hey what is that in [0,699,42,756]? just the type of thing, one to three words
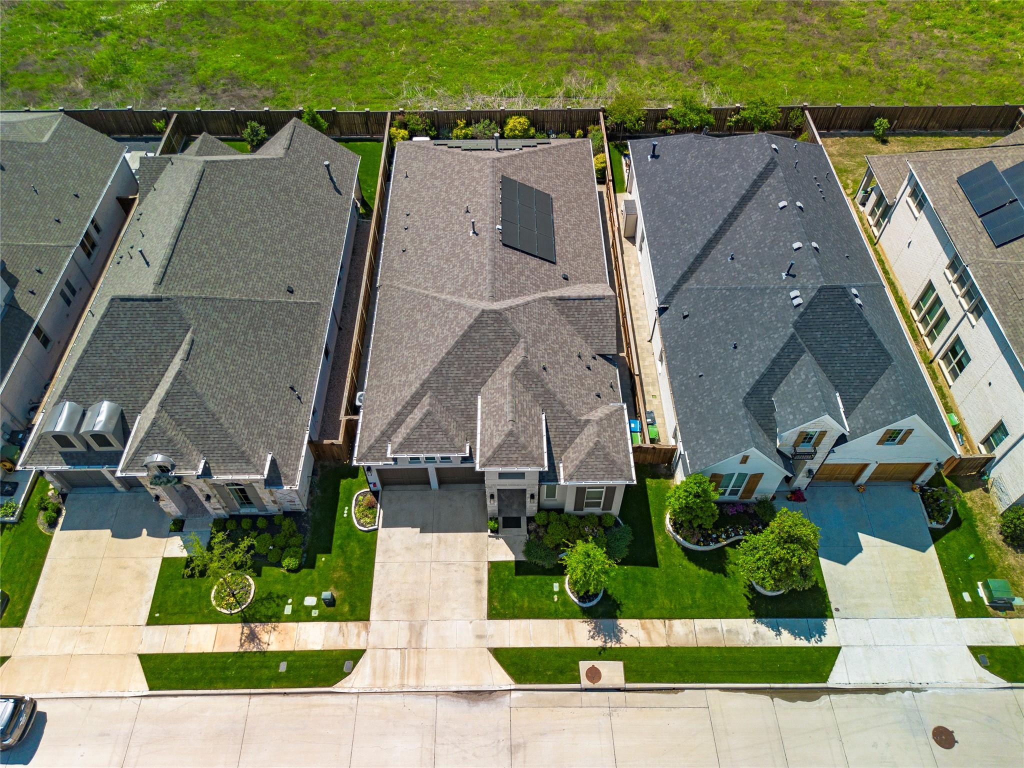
car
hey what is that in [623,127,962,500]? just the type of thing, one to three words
house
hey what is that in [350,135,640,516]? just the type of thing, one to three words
house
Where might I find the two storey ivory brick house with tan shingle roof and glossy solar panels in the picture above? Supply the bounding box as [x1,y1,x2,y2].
[849,132,1024,511]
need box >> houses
[17,117,364,518]
[0,113,134,468]
[350,135,640,516]
[623,127,962,500]
[849,132,1024,511]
